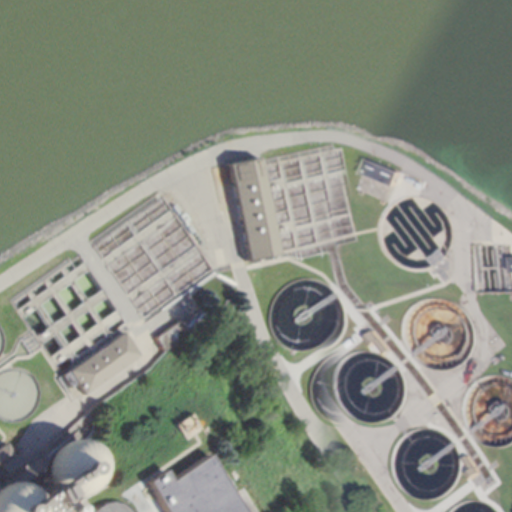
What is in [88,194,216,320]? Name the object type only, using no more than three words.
storage tank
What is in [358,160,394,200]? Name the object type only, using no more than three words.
building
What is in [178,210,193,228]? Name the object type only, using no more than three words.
vehicle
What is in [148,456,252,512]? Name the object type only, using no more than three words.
building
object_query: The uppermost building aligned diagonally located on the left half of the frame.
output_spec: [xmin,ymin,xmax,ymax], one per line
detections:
[69,336,138,396]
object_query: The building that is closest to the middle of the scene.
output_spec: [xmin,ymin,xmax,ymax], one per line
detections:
[228,160,274,261]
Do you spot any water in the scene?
Yes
